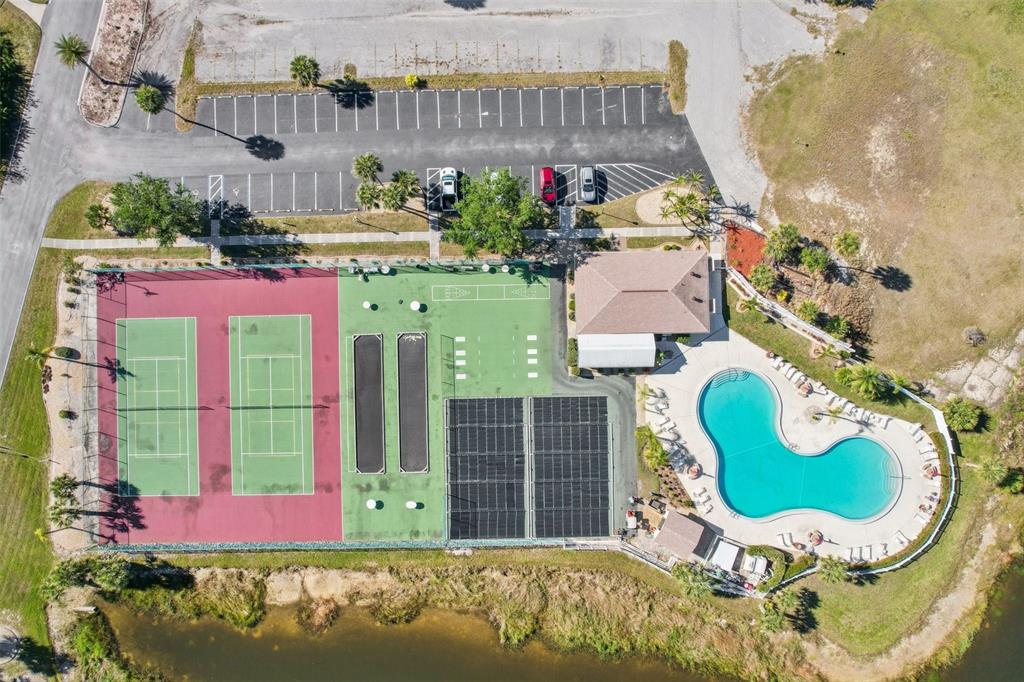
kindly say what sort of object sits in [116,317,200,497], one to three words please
tennis court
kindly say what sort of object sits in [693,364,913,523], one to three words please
swimming pool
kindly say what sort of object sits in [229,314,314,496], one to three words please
tennis court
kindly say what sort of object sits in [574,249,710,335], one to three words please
building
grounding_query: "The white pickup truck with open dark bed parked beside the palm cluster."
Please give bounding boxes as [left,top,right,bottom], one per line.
[440,167,458,211]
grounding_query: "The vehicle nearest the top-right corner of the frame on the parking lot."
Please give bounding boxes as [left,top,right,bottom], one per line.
[580,165,597,201]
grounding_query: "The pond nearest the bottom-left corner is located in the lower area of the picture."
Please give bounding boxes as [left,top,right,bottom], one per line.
[132,619,676,682]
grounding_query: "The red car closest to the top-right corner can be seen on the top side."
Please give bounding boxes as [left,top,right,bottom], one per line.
[540,166,557,202]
